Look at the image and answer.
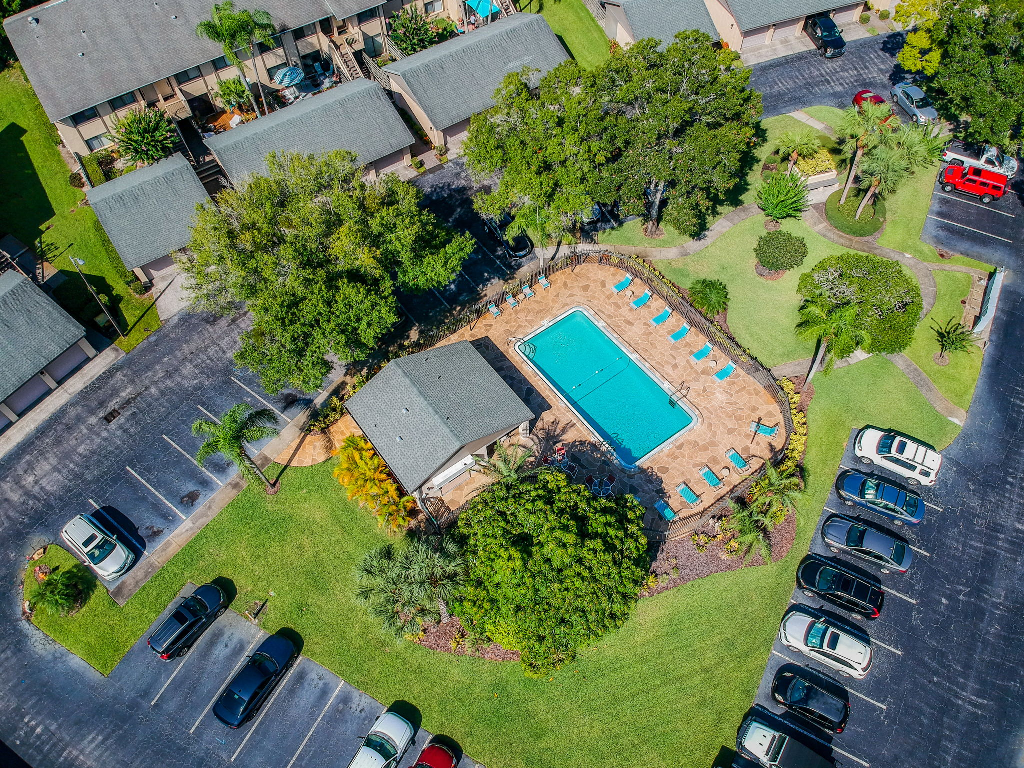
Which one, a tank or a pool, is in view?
pool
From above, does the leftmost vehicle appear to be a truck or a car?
car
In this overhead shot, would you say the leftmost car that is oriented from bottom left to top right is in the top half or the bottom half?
bottom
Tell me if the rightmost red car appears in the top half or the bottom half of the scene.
top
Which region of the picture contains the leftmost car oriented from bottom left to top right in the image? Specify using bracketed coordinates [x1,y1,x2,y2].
[148,583,233,666]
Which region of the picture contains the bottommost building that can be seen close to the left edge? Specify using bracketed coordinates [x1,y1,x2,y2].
[0,273,96,424]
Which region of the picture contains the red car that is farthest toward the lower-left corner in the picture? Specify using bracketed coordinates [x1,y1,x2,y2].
[404,739,457,768]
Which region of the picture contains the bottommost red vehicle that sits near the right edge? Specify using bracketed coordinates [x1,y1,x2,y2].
[939,166,1010,204]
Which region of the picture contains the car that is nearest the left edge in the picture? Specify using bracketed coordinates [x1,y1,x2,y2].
[67,518,137,583]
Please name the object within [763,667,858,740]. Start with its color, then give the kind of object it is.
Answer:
black car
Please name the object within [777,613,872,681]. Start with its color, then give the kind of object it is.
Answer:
white car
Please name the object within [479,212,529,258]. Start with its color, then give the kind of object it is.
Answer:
black car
